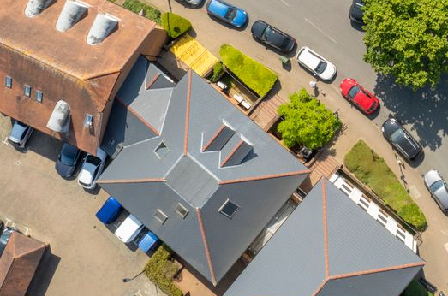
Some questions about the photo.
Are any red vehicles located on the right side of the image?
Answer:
Yes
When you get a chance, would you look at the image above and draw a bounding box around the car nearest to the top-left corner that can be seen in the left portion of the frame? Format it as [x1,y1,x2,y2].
[5,119,34,148]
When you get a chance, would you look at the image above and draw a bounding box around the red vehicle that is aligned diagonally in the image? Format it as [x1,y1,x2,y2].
[339,77,382,116]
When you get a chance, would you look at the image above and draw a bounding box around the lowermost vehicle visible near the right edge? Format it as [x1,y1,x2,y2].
[422,168,448,218]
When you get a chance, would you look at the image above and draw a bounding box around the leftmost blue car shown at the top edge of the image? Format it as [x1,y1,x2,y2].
[204,0,250,28]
